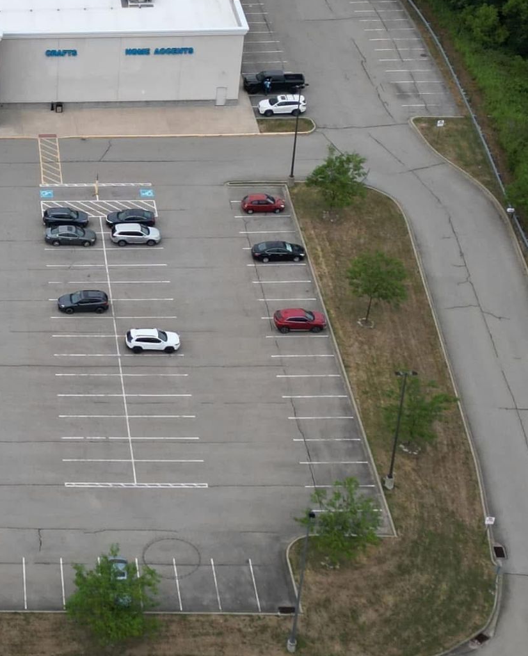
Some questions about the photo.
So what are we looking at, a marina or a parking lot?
parking lot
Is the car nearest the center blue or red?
red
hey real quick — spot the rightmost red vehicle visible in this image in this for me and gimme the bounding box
[270,308,326,333]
